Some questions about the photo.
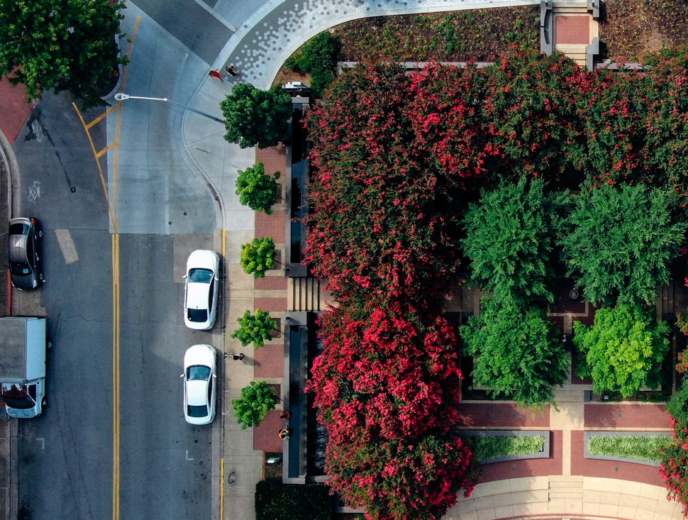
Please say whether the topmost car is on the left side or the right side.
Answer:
left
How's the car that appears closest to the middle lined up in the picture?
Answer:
from top to bottom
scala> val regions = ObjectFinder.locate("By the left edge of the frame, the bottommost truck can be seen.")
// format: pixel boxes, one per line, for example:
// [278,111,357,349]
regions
[0,310,55,418]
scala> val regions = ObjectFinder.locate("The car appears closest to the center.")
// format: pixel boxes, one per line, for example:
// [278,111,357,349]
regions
[177,249,218,329]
